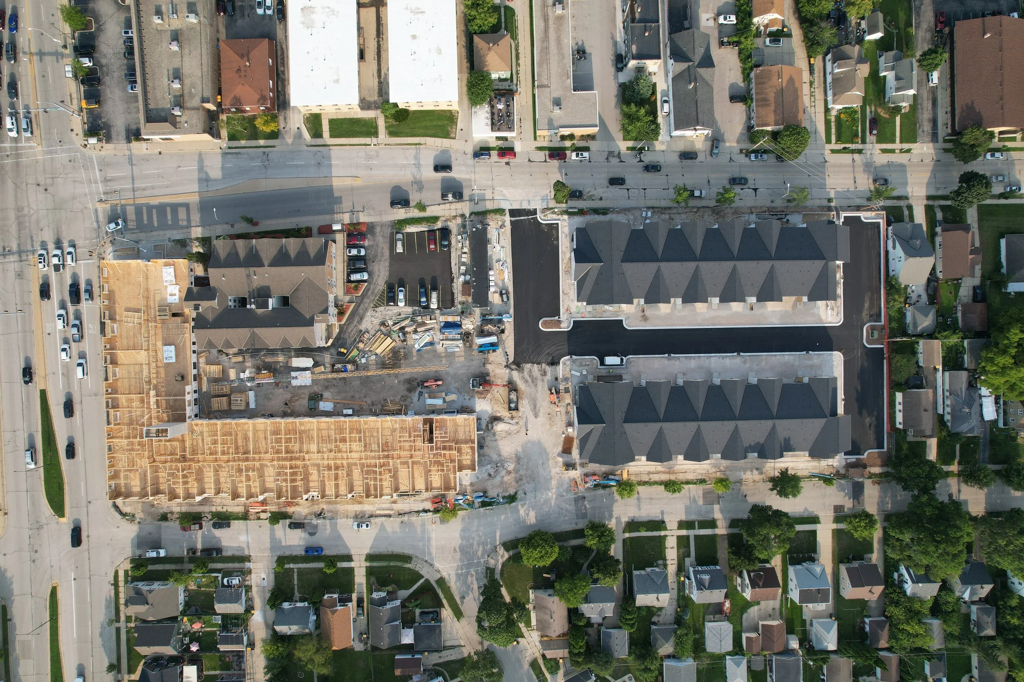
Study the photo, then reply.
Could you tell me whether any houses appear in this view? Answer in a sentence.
Yes, a house appears in the view.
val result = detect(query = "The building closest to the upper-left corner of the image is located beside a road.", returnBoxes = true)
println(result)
[130,0,218,142]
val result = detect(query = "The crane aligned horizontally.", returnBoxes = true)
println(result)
[211,361,448,388]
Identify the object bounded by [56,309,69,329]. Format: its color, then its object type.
white vehicle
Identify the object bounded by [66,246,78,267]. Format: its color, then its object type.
white vehicle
